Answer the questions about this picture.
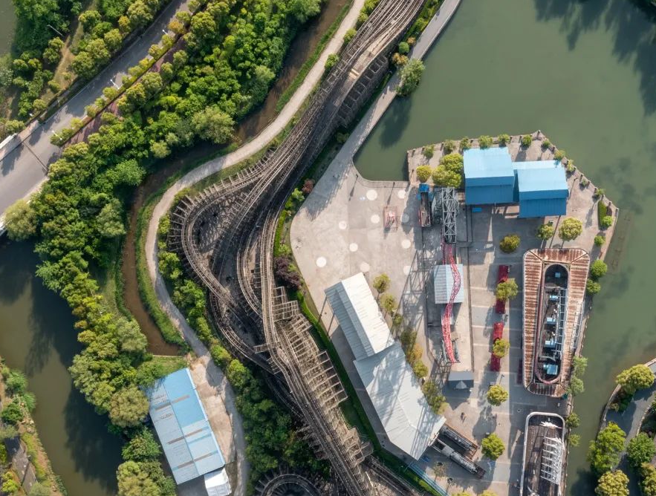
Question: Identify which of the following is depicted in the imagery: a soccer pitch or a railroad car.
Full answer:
I can see a railroad car in this picture.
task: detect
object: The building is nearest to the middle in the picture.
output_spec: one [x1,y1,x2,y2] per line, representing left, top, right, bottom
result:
[324,273,394,361]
